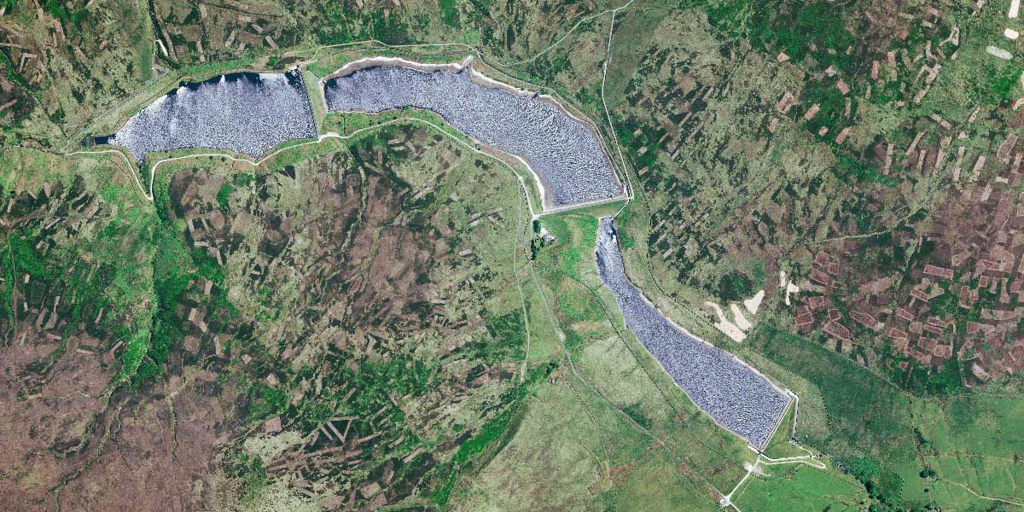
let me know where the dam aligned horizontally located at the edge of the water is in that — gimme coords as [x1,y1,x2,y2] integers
[542,195,630,225]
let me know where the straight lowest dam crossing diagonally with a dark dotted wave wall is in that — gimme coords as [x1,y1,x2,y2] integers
[757,397,794,458]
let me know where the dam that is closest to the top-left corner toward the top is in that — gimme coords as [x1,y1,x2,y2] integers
[299,70,331,138]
